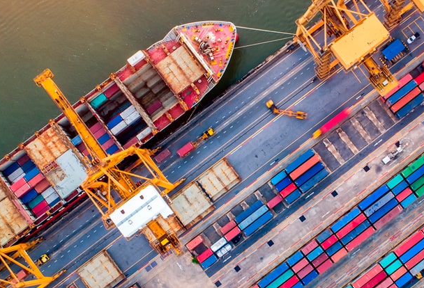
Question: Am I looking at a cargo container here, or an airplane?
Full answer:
The image shows a cargo container.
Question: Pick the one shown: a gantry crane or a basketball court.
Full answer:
Looking from above, you can make out a gantry crane.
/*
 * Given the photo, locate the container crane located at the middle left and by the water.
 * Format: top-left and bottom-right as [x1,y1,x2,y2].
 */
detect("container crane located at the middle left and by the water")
[30,73,189,266]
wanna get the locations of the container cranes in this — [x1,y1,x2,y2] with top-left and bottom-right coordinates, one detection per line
[30,73,189,266]
[0,240,73,288]
[378,0,424,29]
[291,0,403,95]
